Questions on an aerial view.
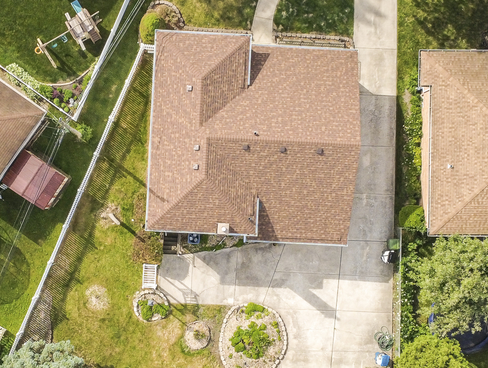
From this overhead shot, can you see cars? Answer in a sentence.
No, there appears to be no car in this shot.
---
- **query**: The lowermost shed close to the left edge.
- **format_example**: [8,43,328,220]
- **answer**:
[2,150,71,210]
